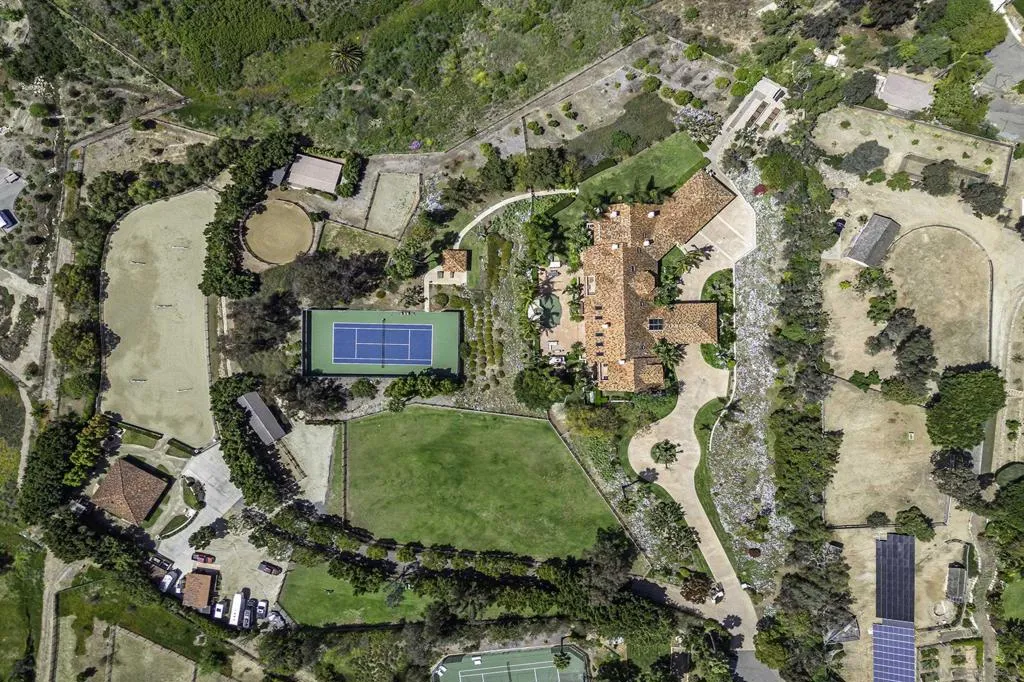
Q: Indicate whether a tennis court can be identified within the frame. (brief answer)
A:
Yes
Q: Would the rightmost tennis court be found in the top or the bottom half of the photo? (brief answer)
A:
bottom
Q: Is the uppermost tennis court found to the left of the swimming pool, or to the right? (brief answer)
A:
on its left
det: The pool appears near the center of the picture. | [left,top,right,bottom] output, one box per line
[534,293,561,329]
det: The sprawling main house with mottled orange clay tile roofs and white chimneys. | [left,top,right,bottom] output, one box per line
[583,167,737,392]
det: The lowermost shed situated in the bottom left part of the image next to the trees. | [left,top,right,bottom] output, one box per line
[183,571,214,616]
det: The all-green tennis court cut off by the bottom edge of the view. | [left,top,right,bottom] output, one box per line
[431,642,593,682]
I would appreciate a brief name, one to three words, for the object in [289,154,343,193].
building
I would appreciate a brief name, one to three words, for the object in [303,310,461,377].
tennis court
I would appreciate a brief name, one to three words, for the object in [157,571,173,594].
vehicle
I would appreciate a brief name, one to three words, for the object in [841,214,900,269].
barn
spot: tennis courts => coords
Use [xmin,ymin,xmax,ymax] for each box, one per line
[303,310,461,377]
[431,642,593,682]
